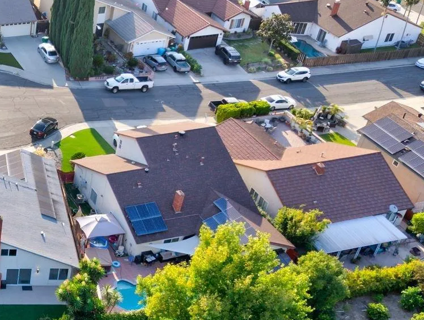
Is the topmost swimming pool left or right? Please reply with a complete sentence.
The topmost swimming pool sits on the right side.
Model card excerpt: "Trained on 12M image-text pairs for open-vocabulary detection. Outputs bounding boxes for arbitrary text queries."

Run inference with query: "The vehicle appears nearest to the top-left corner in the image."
[40,47,59,61]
